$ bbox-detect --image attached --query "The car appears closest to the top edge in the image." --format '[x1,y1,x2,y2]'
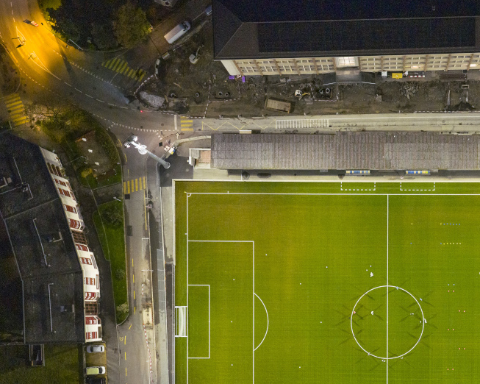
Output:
[201,3,213,18]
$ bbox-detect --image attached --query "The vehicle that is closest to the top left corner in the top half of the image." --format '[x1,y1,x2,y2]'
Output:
[164,22,188,41]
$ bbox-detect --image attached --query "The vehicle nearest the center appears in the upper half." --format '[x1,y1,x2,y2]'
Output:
[266,97,293,114]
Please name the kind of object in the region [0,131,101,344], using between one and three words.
building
